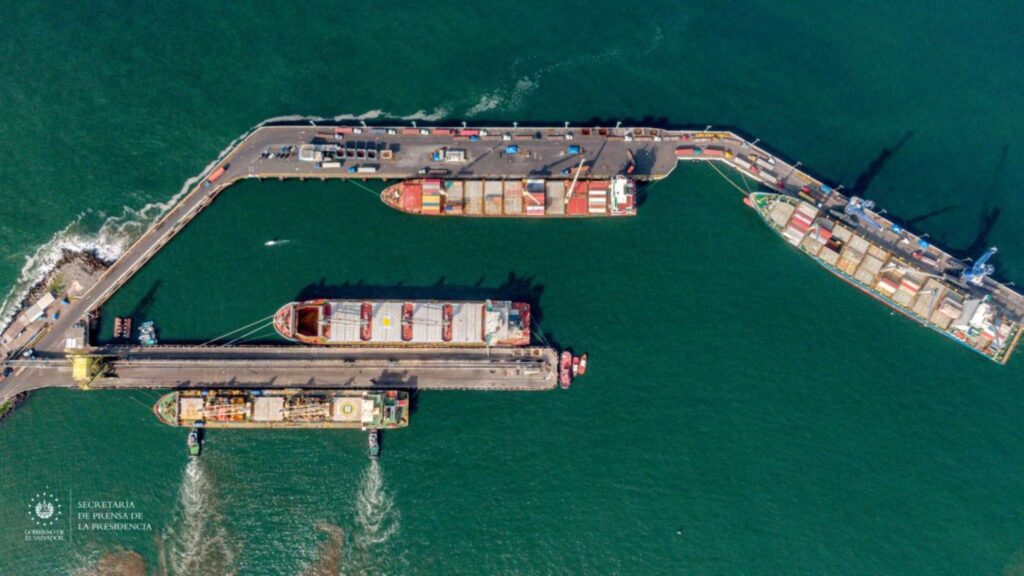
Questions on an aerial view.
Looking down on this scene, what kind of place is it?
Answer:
port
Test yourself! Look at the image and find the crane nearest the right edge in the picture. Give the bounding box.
[955,247,1009,290]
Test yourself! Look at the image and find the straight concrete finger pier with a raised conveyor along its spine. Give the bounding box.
[87,344,557,391]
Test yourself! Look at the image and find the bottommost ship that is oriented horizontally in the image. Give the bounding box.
[151,390,409,430]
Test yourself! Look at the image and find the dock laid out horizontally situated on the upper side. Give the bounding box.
[70,126,1024,331]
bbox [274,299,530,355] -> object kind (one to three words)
ship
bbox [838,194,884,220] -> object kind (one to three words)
crane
